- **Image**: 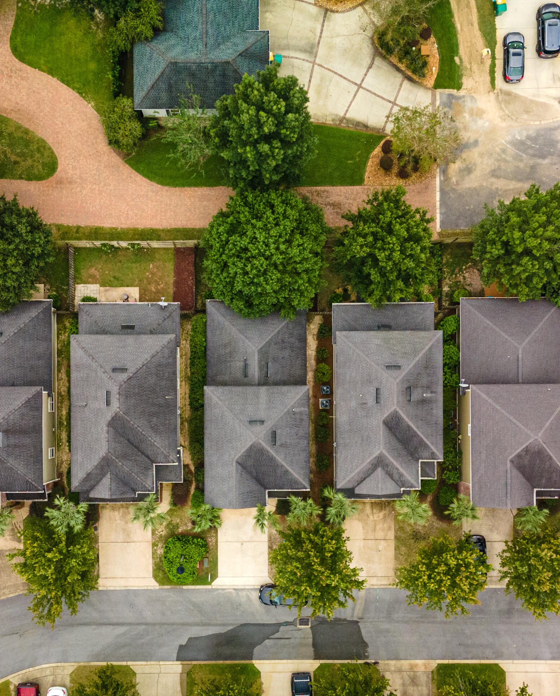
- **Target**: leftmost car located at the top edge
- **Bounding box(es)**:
[501,33,528,86]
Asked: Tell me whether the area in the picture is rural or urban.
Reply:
urban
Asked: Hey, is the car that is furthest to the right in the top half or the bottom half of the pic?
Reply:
top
